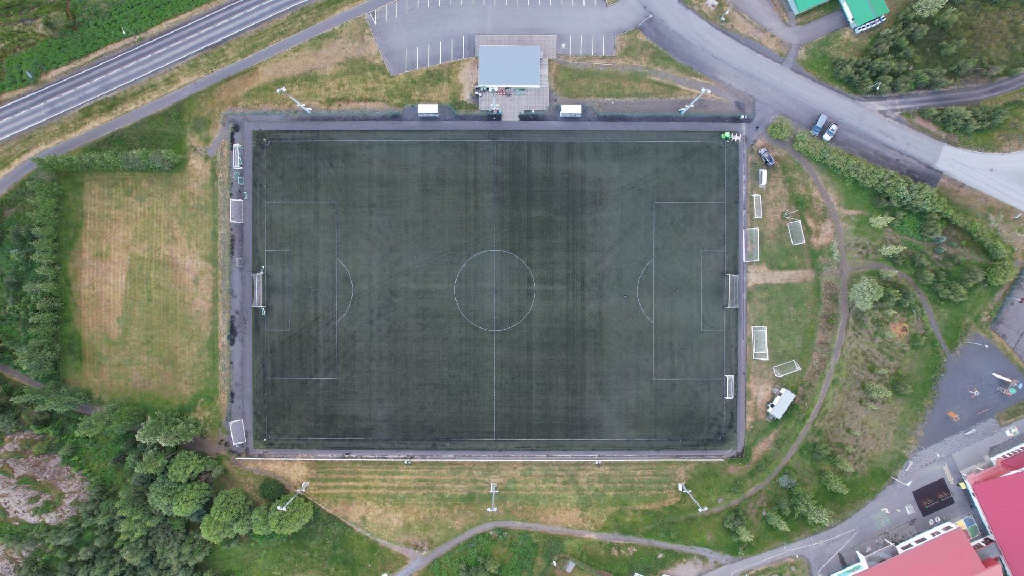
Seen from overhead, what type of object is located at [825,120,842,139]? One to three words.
car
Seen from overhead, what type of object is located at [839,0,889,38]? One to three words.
building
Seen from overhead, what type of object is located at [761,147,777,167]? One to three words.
car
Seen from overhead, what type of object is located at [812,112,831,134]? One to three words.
vehicle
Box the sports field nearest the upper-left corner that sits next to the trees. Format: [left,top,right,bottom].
[80,173,213,398]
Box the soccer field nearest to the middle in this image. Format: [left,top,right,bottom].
[252,130,738,449]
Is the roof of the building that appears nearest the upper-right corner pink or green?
green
